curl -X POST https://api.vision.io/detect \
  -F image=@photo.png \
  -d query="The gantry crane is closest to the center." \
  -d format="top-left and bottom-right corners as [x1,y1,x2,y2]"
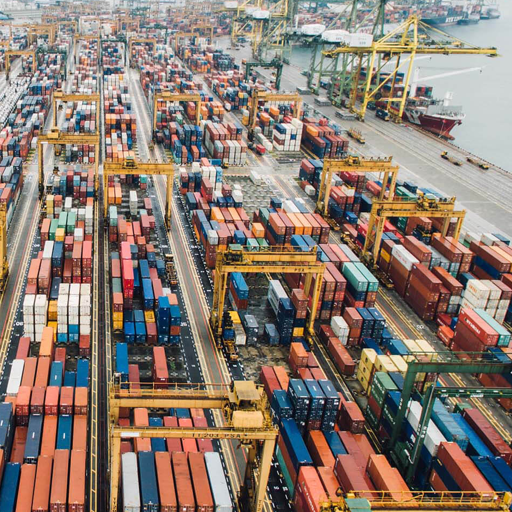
[206,240,325,349]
